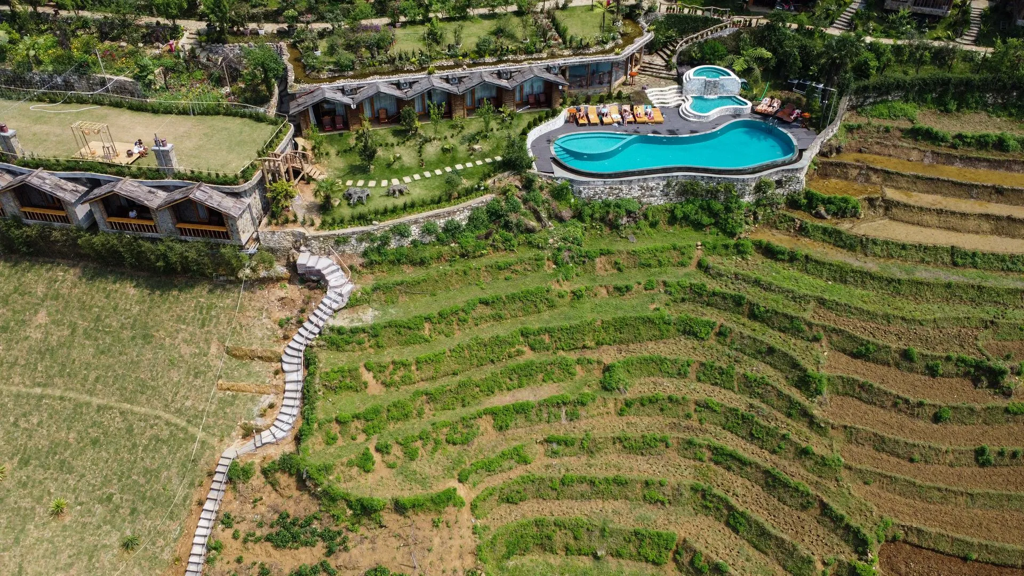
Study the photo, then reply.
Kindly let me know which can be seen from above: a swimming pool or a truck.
swimming pool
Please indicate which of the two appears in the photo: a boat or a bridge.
bridge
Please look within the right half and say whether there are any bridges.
No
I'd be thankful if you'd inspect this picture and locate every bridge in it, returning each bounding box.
[254,145,337,193]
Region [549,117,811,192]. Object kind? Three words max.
swimming pool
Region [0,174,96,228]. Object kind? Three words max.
house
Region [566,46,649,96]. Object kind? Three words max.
building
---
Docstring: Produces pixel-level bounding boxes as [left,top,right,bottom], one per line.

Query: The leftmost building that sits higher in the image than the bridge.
[296,84,358,144]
